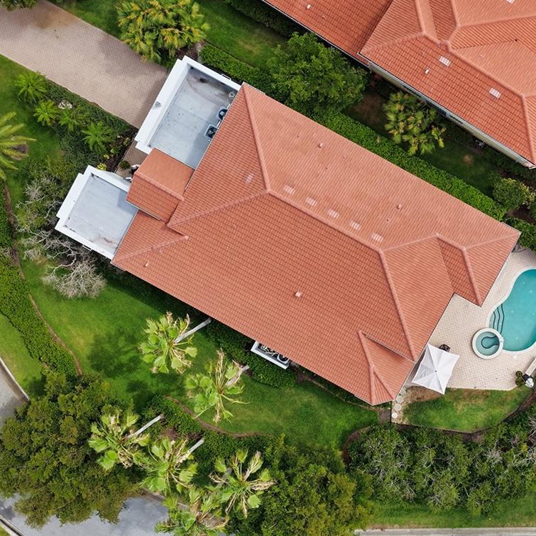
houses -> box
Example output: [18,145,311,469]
[55,56,521,405]
[262,0,536,166]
